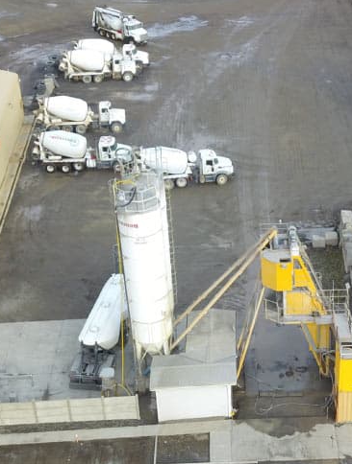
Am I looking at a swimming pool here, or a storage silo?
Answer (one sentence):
There is a storage silo in the scene.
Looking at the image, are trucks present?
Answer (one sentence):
Yes, looking at the shot, I can spot a truck.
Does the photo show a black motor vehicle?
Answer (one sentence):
No, the photo shows no black motor vehicle.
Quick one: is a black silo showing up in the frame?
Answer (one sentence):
No, this view has no black silo in it.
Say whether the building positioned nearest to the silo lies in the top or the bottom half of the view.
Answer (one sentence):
The bottom half of the photo is where the building positioned nearest to the silo is.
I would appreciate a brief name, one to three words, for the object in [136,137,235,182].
truck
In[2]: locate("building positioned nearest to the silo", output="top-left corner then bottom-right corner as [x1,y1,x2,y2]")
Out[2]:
[149,312,238,422]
